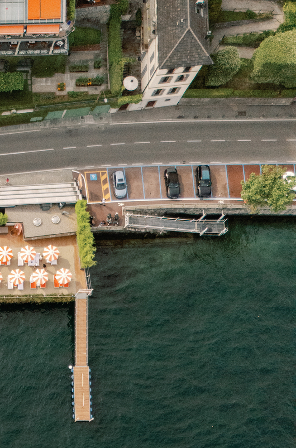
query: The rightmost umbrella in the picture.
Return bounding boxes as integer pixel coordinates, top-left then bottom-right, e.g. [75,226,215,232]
[120,74,142,93]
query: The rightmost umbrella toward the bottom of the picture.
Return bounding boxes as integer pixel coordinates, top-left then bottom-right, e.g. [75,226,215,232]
[54,269,73,286]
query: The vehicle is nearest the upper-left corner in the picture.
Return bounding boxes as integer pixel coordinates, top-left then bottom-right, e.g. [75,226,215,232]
[111,171,129,199]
